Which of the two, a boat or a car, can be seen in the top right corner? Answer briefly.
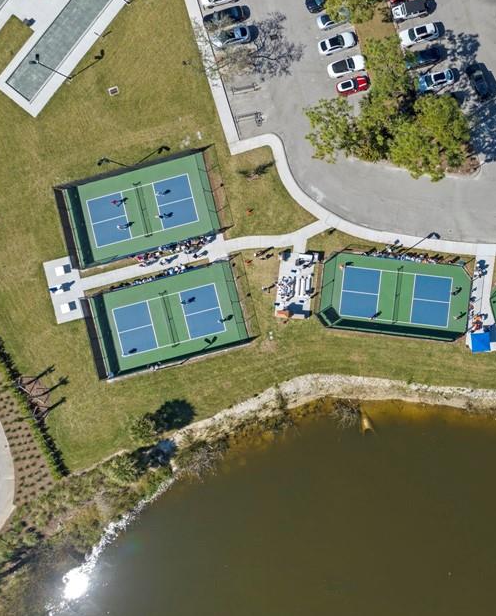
car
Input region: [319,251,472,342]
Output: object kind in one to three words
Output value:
sports court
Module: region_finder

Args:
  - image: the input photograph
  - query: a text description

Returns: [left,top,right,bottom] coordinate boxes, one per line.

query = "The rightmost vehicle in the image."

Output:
[466,60,492,100]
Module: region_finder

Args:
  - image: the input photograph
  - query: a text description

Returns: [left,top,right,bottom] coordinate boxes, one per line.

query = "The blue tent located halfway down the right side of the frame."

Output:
[471,332,491,353]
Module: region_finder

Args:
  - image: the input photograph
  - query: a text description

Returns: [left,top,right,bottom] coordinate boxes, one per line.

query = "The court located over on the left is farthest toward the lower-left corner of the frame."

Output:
[90,259,250,380]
